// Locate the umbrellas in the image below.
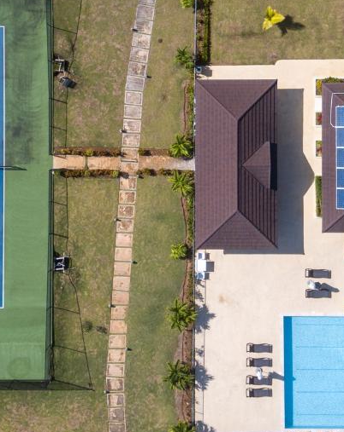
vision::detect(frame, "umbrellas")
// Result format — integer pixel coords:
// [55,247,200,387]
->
[254,367,262,382]
[310,283,322,291]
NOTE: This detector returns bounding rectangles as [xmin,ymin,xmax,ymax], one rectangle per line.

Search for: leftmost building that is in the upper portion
[196,79,278,250]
